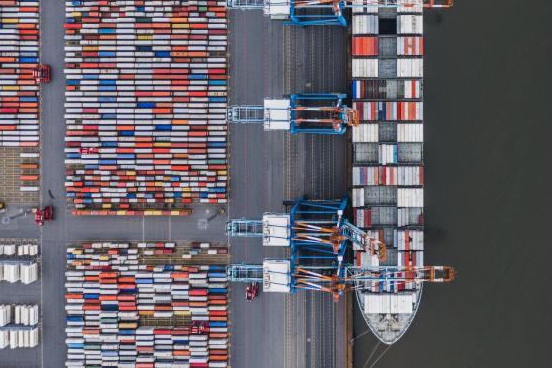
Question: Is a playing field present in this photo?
No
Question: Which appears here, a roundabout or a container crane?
container crane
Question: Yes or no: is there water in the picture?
Yes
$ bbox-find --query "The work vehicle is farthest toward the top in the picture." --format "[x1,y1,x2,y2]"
[33,64,50,83]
